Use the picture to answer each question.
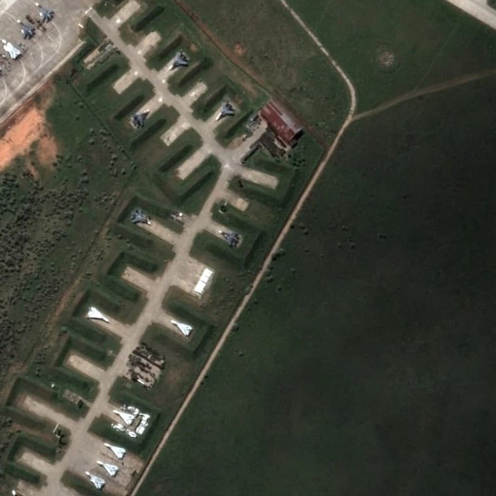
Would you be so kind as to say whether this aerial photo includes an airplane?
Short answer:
Yes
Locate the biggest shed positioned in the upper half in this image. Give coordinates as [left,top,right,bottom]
[259,99,306,146]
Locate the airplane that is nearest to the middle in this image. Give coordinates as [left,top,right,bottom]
[219,231,241,246]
